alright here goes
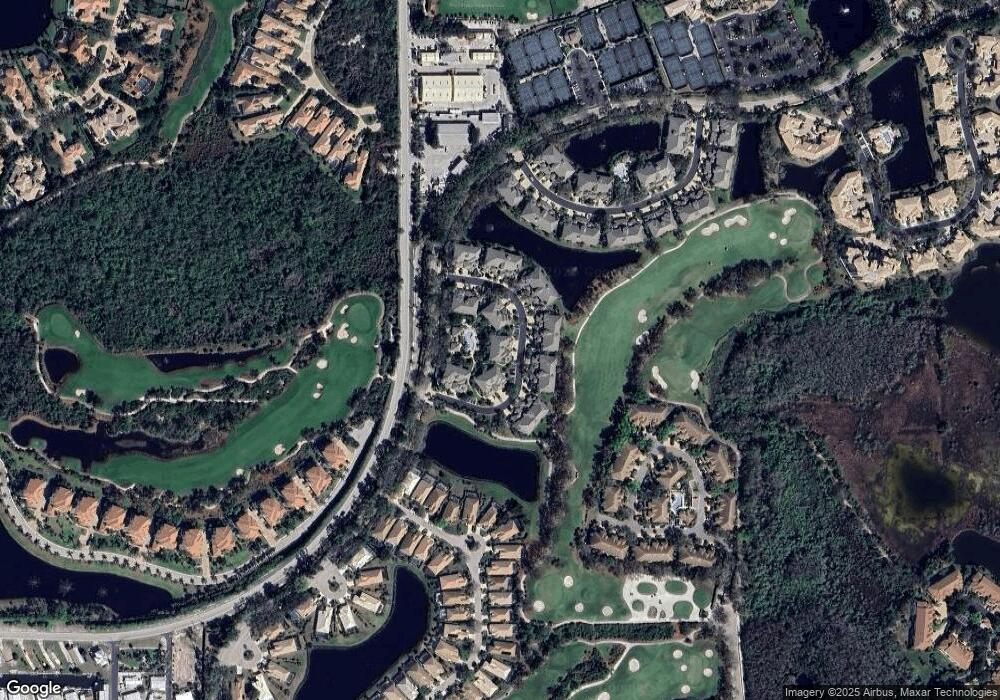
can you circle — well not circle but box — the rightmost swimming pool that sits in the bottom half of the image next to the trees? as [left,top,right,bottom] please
[669,490,686,514]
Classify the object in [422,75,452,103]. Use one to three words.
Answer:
building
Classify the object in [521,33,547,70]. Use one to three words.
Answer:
tennis court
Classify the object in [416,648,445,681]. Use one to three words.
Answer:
house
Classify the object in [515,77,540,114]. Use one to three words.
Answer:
tennis court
